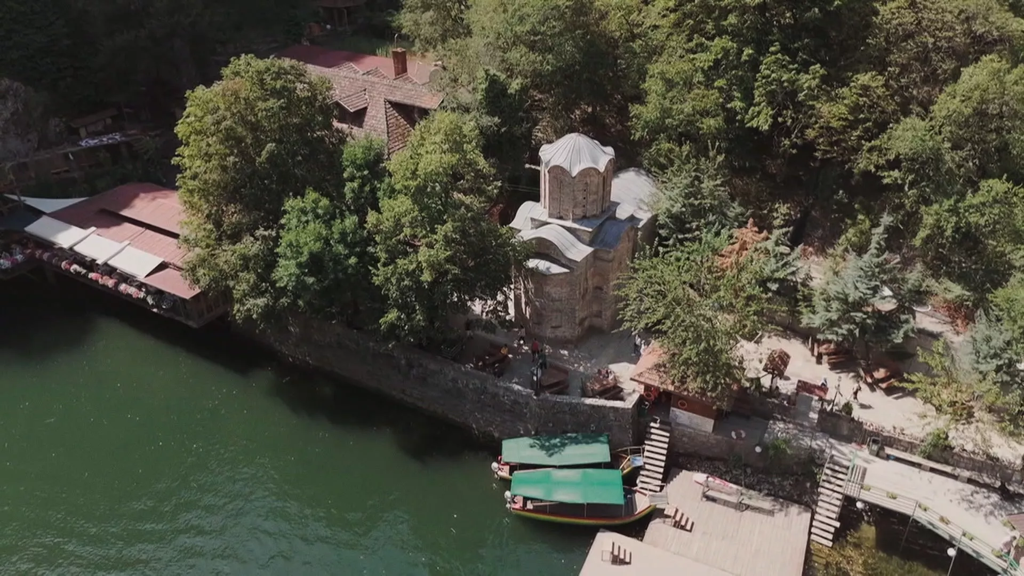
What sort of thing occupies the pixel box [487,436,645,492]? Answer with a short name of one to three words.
boat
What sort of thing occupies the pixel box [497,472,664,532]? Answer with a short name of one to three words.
boat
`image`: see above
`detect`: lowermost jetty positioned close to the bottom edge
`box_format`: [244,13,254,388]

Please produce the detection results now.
[581,528,753,576]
